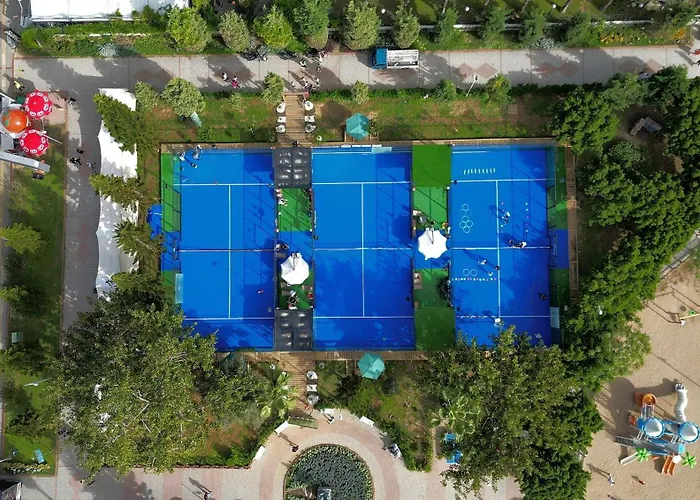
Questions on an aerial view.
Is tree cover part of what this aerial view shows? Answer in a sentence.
Yes, tree cover can be seen from above here.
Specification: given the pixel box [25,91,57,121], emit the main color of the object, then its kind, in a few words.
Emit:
red umbrella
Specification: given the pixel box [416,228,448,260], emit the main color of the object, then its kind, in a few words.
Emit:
white umbrella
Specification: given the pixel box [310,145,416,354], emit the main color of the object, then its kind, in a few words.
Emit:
blue sports court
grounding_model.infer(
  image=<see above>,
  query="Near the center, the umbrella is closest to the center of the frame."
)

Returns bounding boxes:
[282,254,308,281]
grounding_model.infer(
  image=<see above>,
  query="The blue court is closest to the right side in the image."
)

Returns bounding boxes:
[448,143,562,352]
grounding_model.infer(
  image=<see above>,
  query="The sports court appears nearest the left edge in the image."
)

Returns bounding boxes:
[170,147,278,354]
